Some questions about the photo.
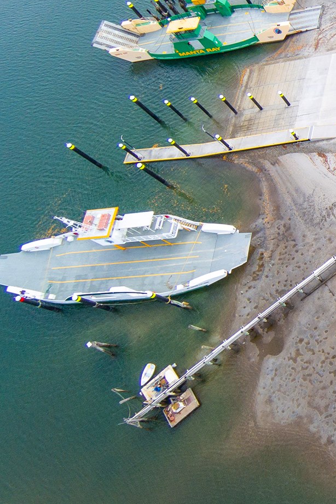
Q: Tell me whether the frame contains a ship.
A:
Yes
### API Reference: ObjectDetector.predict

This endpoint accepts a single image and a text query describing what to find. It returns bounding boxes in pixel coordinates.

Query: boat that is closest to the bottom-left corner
[137,363,153,390]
